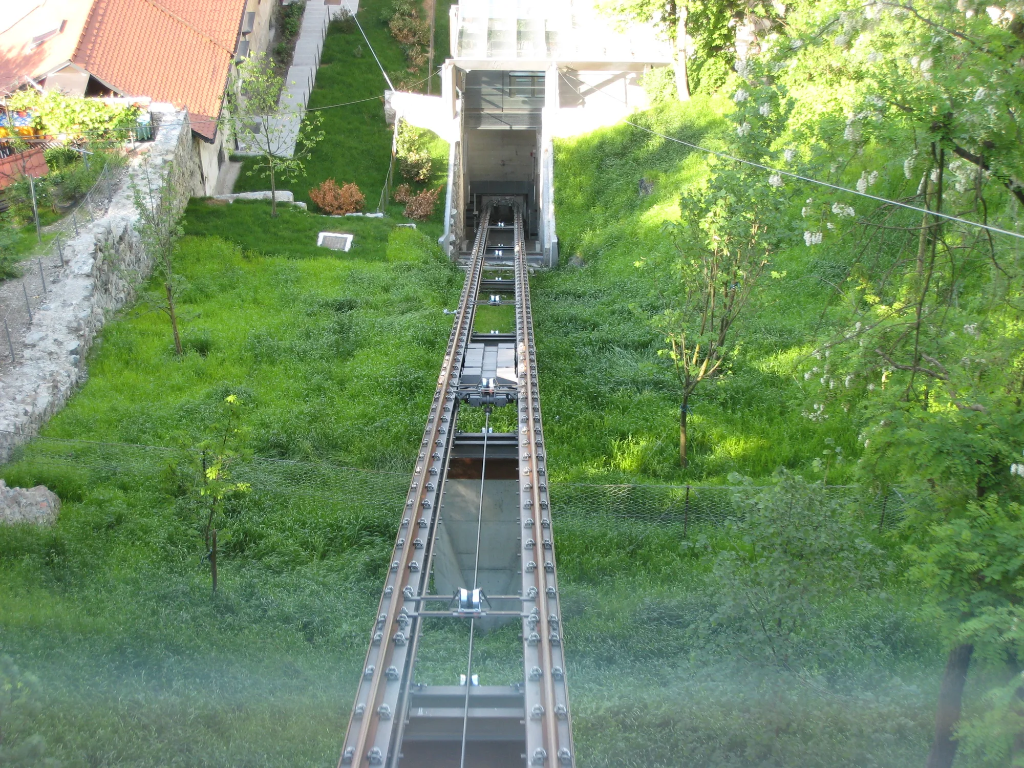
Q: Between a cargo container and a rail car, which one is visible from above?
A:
rail car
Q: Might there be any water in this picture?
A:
No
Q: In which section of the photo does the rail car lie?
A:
center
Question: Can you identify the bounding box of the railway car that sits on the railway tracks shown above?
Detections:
[458,340,516,410]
